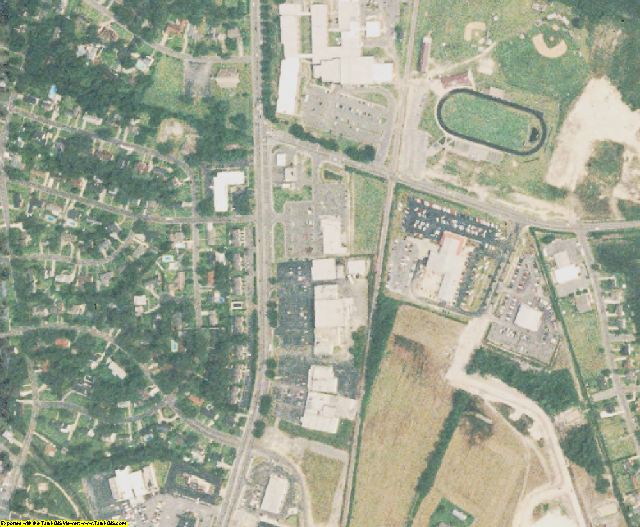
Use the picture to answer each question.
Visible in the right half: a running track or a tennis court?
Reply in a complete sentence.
There is a running track in the right half.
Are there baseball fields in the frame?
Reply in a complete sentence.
Yes, there's a baseball field down there.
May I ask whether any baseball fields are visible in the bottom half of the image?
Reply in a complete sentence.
No, there's no baseball field to be seen in the bottom half of the image.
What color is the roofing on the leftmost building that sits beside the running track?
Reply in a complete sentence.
From above, the roof of the leftmost building that sits beside the running track looks white.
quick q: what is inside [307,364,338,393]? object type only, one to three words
building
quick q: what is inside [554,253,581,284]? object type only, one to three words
building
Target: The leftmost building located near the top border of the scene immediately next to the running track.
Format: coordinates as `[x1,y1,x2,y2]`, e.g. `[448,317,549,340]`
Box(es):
[276,0,392,114]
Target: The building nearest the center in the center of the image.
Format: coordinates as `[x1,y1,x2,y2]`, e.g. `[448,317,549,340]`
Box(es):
[311,259,336,279]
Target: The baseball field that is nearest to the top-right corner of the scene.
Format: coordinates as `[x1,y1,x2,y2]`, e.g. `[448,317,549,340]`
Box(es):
[497,23,590,104]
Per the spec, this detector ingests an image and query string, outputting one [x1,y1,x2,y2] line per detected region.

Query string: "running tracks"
[435,87,548,156]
